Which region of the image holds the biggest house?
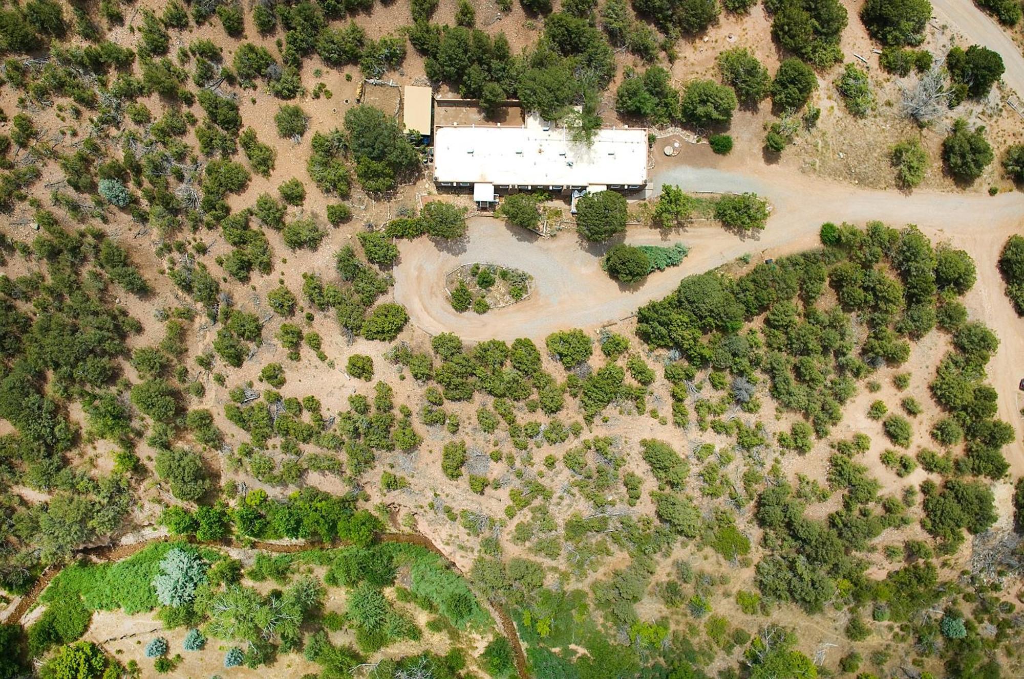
top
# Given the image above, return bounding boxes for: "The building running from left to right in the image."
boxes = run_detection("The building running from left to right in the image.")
[434,122,648,211]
